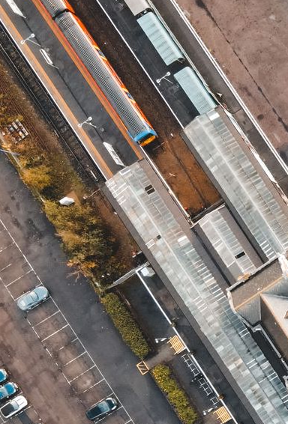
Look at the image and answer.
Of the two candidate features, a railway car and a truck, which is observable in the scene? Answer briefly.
railway car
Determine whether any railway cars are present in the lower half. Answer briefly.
No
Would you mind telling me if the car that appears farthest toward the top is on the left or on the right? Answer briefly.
left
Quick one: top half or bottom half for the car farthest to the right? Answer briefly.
bottom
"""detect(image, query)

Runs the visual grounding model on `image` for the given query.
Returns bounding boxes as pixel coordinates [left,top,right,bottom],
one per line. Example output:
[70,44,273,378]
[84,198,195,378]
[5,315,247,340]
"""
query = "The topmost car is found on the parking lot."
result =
[16,286,52,309]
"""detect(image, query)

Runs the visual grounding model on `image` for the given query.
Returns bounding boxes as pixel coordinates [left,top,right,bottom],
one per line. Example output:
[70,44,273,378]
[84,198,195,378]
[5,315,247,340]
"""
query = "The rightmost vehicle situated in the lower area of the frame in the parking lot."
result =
[83,395,121,422]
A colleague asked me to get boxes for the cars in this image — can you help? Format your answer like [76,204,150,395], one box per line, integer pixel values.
[0,368,9,384]
[16,286,52,309]
[0,395,30,418]
[0,381,20,402]
[83,395,121,422]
